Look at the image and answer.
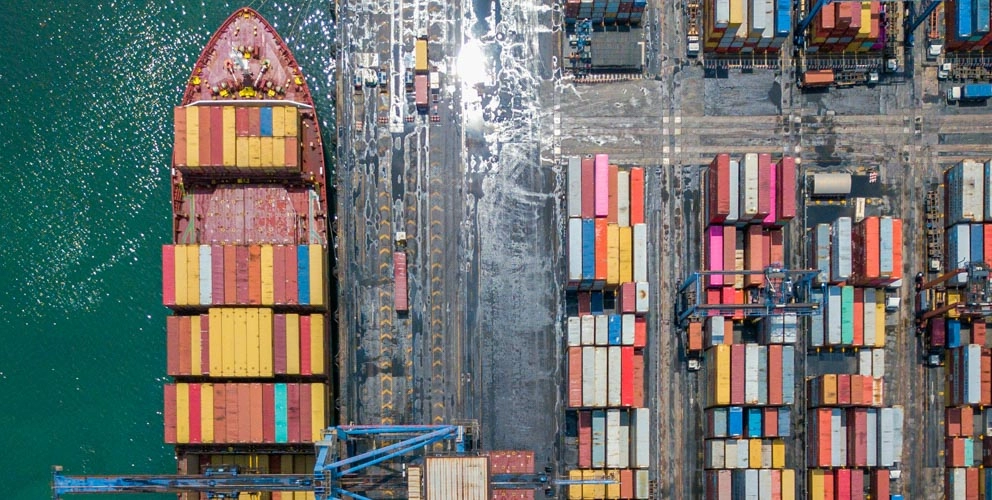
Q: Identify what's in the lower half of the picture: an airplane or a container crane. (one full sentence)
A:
You can see a container crane in the lower half of the picture.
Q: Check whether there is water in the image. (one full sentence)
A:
Yes, there's water in this view.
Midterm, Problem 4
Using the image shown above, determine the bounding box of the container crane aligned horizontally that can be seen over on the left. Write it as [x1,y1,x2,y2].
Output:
[50,421,606,500]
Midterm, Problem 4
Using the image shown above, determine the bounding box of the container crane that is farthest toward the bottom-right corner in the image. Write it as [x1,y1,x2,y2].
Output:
[919,266,992,326]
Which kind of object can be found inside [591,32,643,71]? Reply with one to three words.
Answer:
shed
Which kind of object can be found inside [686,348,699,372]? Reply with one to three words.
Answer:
vehicle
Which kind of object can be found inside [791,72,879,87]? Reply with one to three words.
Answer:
vehicle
